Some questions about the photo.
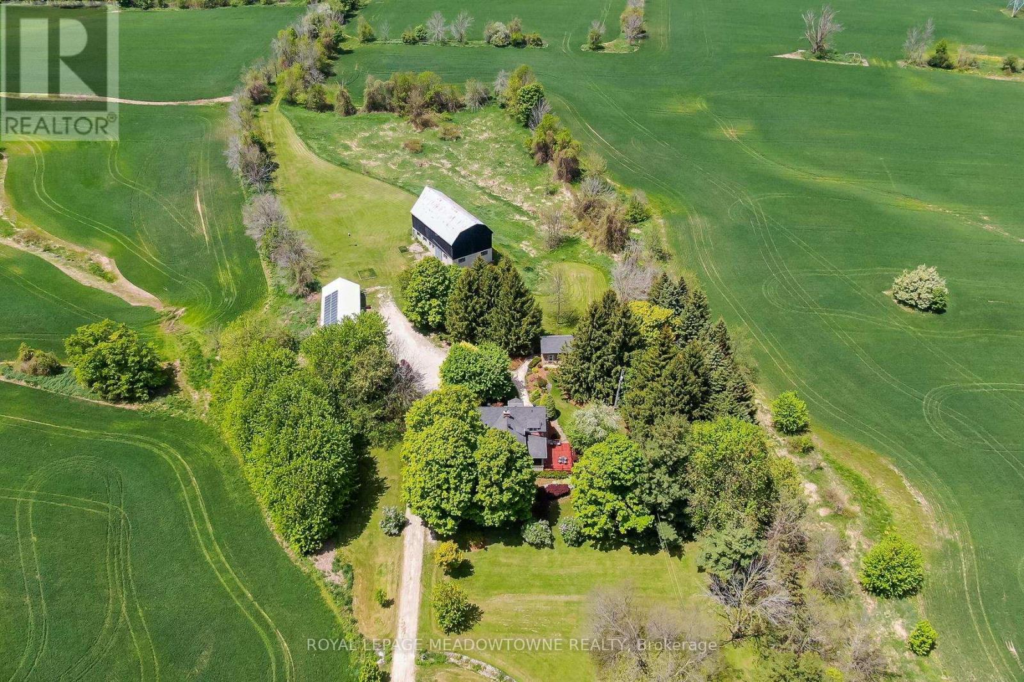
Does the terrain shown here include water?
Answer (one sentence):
No, the scene doesn't show any water.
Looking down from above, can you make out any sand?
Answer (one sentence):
No, there is no sand in the image.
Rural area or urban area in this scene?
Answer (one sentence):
This place is rural.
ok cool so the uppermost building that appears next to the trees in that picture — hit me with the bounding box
[408,190,492,267]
